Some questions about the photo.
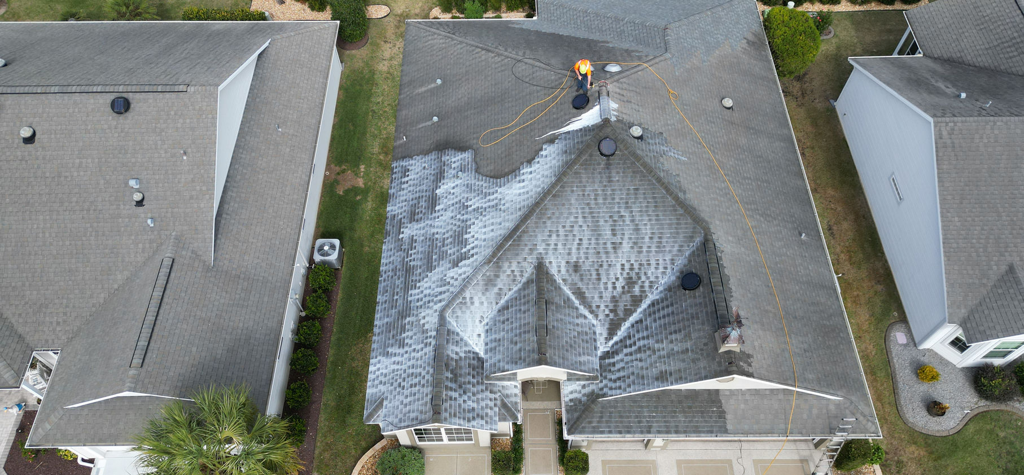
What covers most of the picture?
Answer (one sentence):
The largest share of the image is taken up by buildings.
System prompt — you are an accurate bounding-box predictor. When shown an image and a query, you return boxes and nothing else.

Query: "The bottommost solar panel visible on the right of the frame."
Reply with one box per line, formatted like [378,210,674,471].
[679,269,697,286]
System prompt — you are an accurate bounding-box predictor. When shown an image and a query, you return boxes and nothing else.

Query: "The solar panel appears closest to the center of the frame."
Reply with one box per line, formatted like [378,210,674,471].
[599,137,617,155]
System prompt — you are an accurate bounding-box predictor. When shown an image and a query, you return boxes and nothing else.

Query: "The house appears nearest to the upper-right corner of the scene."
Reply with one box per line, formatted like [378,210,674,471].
[830,0,1024,366]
